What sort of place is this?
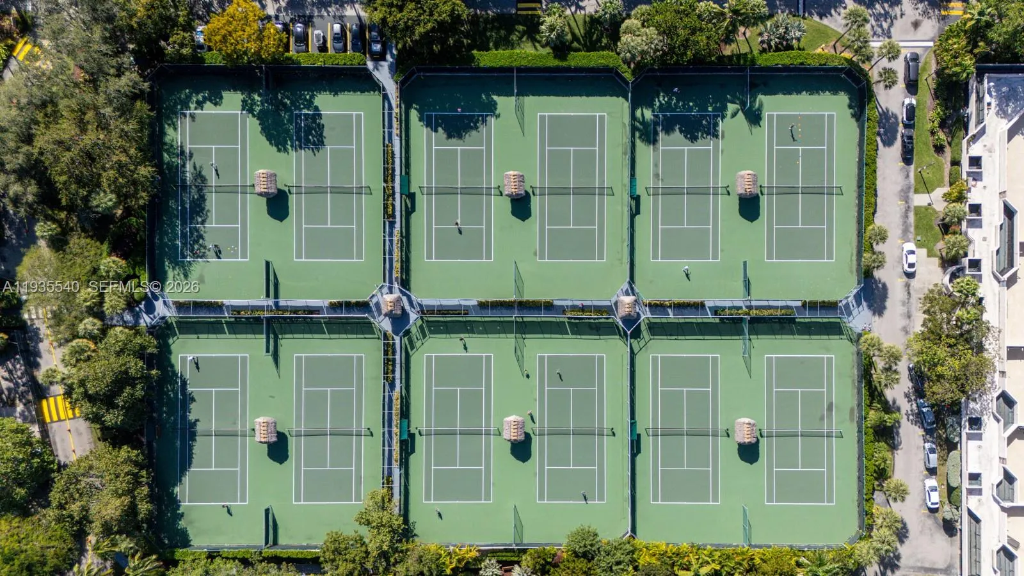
sports ground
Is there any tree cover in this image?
Yes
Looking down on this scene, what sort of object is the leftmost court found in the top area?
tennis court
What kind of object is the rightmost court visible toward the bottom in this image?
tennis court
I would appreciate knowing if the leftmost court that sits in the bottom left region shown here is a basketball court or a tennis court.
tennis court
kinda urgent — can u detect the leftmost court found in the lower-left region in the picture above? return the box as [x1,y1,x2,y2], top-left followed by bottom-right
[158,316,271,545]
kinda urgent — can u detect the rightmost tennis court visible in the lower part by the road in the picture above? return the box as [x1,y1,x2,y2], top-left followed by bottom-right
[743,317,857,545]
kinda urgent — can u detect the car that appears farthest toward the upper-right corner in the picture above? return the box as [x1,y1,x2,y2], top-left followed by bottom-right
[903,52,921,85]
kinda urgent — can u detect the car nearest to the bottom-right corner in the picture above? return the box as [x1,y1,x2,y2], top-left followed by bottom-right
[923,478,940,509]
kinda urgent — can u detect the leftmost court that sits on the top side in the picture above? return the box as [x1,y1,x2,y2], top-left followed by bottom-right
[157,72,271,299]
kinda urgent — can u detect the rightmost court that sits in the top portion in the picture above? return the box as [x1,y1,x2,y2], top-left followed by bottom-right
[743,73,857,299]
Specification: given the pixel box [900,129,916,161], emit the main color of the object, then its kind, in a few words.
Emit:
black car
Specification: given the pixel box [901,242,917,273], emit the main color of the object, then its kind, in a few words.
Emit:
white car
